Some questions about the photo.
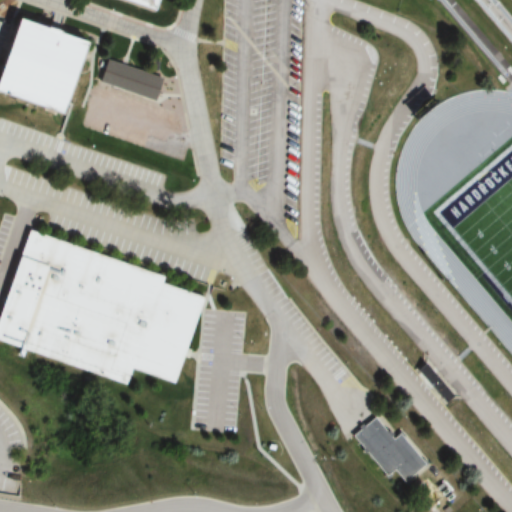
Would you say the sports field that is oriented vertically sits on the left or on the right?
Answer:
right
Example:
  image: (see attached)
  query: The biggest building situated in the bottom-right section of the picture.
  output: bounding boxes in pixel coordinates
[355,417,429,480]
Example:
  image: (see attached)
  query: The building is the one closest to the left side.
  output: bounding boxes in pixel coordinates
[0,17,90,116]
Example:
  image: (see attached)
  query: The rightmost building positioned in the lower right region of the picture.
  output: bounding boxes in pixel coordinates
[421,363,455,402]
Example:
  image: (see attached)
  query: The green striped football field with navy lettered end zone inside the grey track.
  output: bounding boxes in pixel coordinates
[422,136,512,322]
